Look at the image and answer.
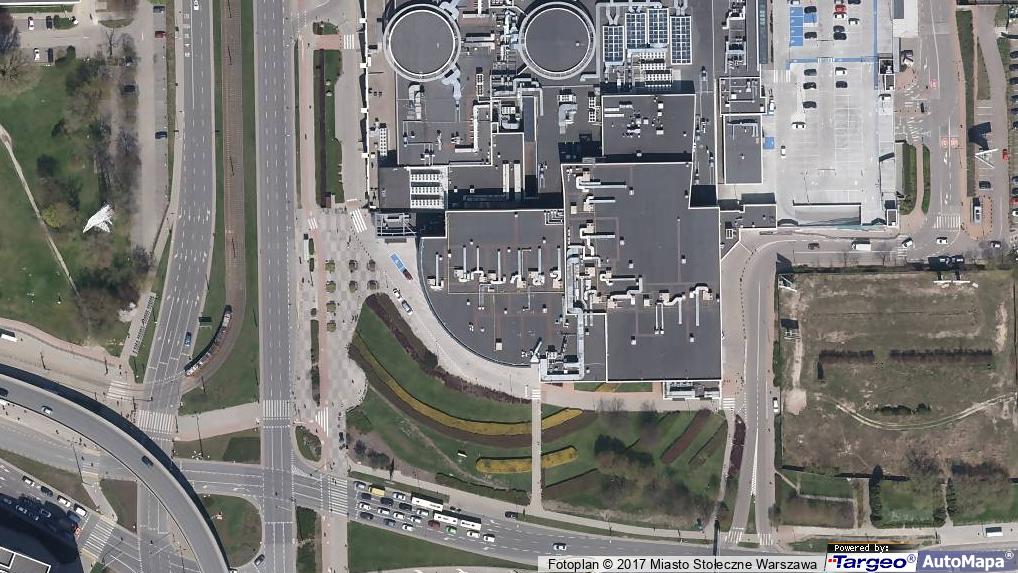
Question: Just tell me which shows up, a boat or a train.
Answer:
train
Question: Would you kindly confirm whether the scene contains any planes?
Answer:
Yes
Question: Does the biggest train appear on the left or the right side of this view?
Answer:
left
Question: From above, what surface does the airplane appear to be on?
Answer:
grass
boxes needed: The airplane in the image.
[86,204,114,232]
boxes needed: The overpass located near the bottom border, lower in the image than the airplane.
[0,374,228,573]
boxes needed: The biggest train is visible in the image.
[188,309,234,373]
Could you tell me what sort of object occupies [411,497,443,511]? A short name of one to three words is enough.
vehicle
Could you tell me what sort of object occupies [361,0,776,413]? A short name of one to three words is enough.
building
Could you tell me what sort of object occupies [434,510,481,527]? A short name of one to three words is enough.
vehicle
